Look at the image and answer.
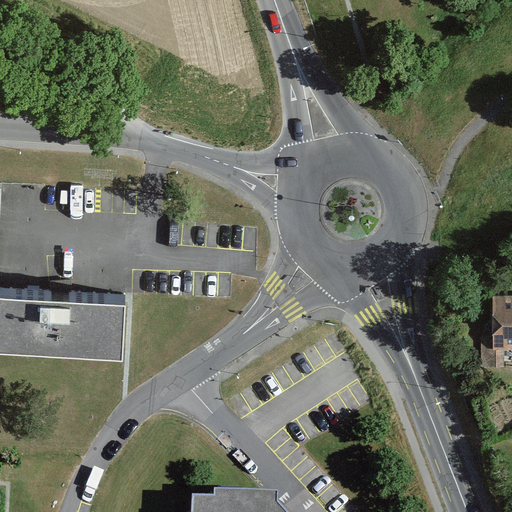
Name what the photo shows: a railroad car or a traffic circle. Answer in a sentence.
The image shows a traffic circle.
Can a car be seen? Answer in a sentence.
Yes, the picture does show a car.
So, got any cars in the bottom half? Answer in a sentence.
Yes, a car can be seen in the bottom half.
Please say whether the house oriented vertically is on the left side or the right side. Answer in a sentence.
The house oriented vertically is on the right side of the image.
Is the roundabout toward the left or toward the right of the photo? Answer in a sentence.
You can find the roundabout on the right side of the picture.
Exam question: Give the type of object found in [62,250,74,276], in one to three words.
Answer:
vehicle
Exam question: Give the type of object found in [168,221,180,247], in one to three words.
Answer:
vehicle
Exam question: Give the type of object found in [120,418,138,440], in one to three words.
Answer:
car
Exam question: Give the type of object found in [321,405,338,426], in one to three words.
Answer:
car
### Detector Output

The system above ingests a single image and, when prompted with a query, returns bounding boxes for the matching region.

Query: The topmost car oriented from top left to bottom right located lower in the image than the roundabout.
[295,352,313,374]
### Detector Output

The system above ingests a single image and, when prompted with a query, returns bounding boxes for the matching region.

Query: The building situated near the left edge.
[0,287,126,362]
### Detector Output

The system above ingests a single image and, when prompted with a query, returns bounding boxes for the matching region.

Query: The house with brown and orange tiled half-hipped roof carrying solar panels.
[481,294,512,367]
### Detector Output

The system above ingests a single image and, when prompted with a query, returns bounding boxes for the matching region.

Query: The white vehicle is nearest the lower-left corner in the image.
[83,466,104,501]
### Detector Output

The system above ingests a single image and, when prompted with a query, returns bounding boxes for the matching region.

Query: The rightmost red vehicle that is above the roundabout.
[268,12,282,33]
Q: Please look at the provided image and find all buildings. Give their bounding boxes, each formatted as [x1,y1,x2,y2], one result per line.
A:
[481,294,512,367]
[0,287,126,362]
[190,486,294,512]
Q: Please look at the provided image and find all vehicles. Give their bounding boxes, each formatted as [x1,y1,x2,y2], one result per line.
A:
[294,118,304,140]
[196,226,206,246]
[295,352,313,374]
[46,186,56,204]
[104,441,122,460]
[182,270,194,292]
[58,187,68,210]
[83,466,104,501]
[84,189,95,213]
[220,224,230,247]
[289,422,306,442]
[311,476,332,494]
[206,275,218,296]
[276,157,298,168]
[158,272,168,293]
[268,12,282,33]
[264,375,282,396]
[168,221,180,247]
[321,405,338,426]
[252,380,271,402]
[120,418,138,440]
[232,224,243,248]
[311,411,329,433]
[231,446,257,472]
[145,270,156,292]
[70,184,84,218]
[62,250,74,276]
[170,275,181,294]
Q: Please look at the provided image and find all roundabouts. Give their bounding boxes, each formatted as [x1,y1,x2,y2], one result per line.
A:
[275,132,428,304]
